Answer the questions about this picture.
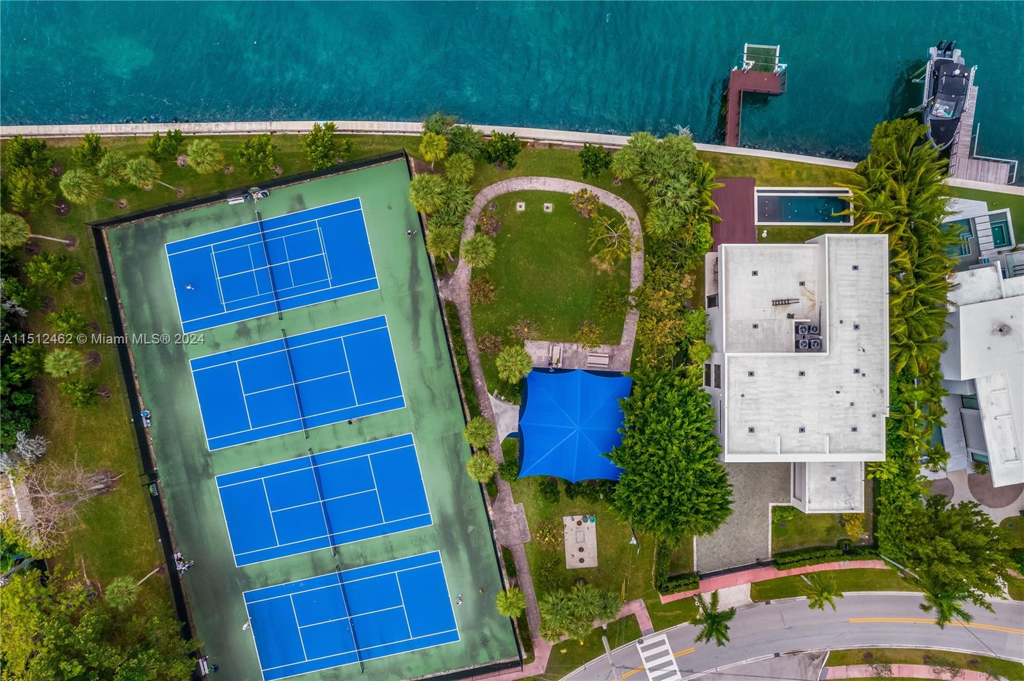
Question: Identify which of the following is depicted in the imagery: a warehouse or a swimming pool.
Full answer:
I can see a swimming pool in this picture.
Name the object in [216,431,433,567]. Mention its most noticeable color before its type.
blue tennis court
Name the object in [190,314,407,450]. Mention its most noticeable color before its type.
blue tennis court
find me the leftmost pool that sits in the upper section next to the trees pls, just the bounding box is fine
[754,187,853,226]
